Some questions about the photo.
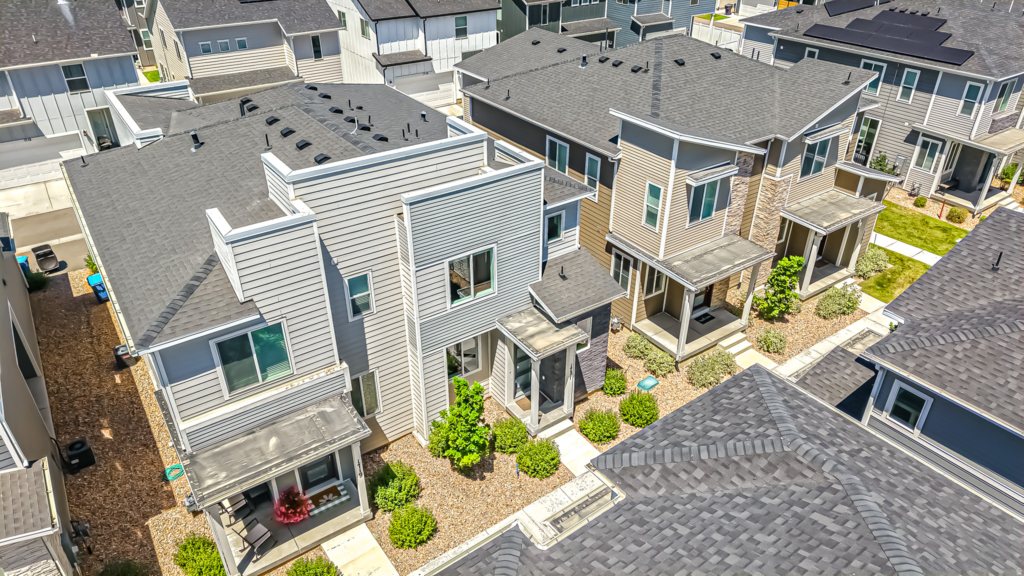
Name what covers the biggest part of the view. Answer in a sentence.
The largest share of the image is taken up by buildings.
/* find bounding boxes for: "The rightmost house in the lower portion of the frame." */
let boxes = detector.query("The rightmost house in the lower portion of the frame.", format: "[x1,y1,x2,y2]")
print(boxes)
[782,204,1024,521]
